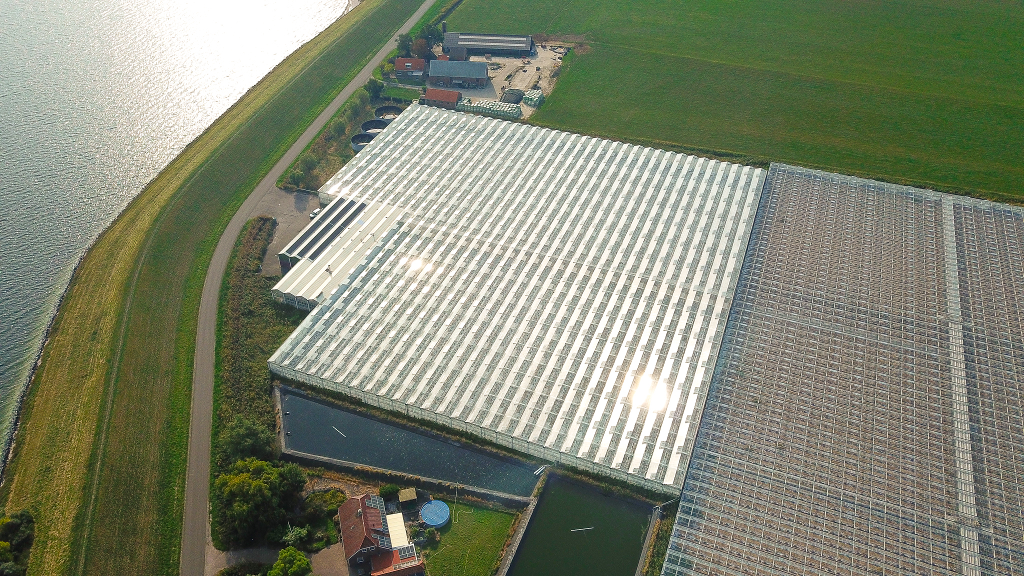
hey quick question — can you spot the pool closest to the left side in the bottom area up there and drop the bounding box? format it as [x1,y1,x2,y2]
[419,500,450,532]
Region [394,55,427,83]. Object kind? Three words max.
house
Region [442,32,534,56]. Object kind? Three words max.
barn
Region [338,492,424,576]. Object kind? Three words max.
house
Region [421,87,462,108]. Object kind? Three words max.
shed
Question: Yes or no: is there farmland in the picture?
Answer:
Yes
